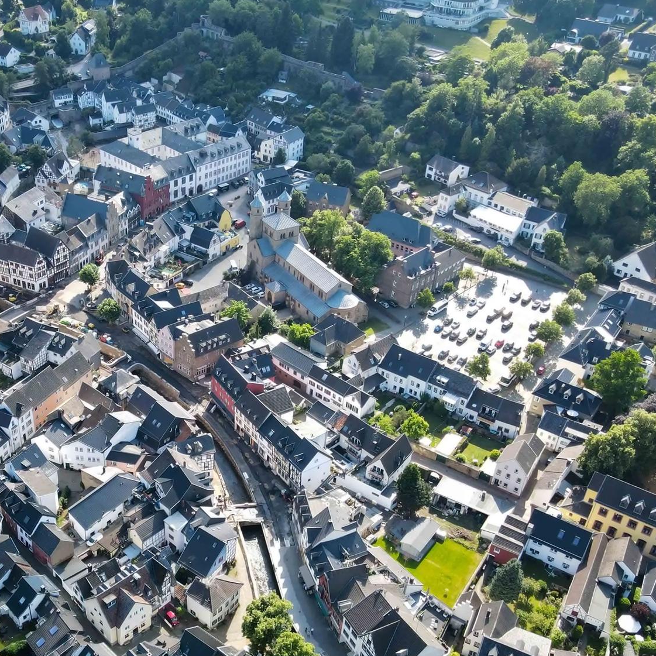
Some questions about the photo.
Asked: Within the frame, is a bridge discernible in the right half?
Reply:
No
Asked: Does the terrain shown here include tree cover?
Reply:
Yes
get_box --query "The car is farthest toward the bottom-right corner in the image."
[445,622,461,646]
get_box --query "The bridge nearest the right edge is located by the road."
[230,498,264,526]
